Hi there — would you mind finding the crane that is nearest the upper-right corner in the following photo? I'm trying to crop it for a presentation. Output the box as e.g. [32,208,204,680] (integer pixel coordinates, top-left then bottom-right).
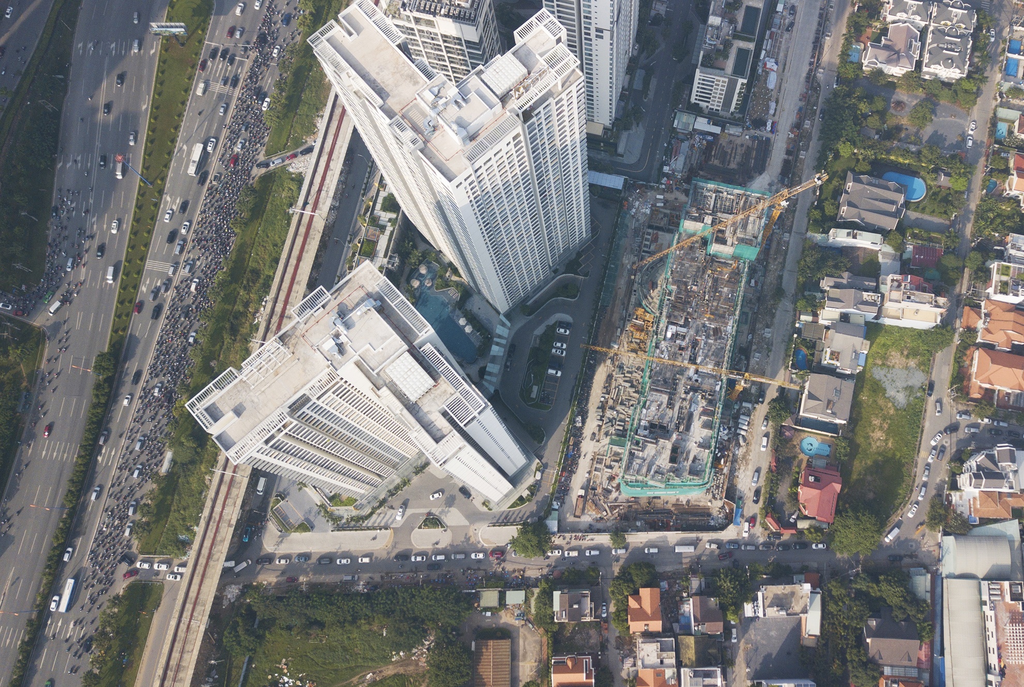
[633,172,829,282]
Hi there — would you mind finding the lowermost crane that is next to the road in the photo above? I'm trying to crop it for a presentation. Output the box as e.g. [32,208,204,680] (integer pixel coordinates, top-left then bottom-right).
[581,344,804,412]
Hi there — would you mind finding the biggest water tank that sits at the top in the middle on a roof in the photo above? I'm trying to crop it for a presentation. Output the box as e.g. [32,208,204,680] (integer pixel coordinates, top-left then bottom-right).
[480,48,531,97]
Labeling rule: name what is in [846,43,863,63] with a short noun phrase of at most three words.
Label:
swimming pool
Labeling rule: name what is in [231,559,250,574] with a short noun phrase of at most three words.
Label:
vehicle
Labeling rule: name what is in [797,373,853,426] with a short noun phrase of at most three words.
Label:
house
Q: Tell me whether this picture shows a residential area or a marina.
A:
residential area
